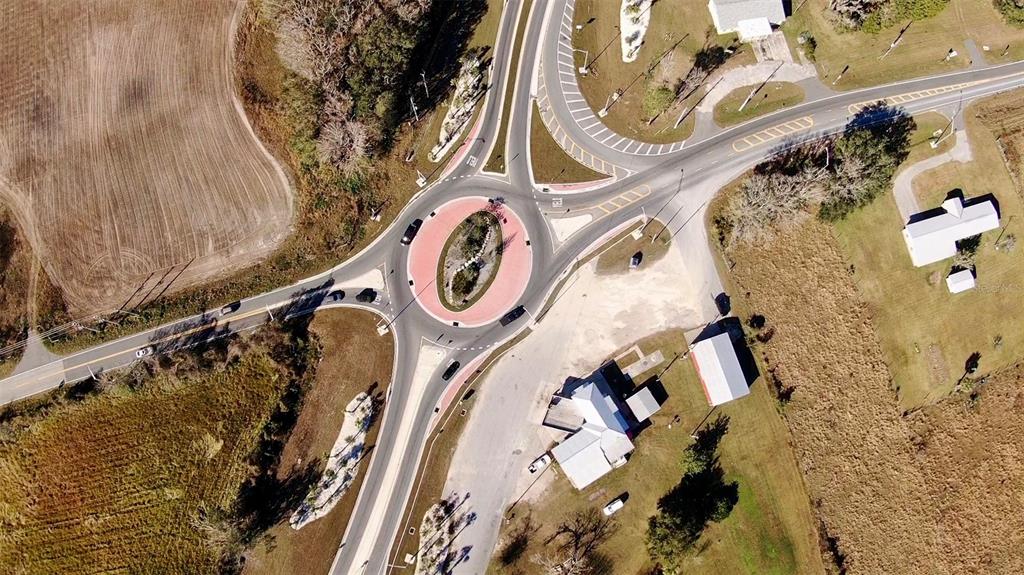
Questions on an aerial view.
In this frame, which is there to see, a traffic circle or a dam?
traffic circle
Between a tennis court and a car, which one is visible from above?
car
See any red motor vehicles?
No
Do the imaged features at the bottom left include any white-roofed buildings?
No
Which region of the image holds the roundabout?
center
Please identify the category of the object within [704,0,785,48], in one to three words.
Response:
house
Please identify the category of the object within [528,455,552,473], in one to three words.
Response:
car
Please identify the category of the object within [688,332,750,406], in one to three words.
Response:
barn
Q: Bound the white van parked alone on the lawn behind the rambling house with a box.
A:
[601,497,624,515]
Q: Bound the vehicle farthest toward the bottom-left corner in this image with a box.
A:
[135,345,155,357]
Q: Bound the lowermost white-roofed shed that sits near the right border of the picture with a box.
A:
[942,269,975,293]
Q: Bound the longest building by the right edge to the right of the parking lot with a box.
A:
[903,197,1000,268]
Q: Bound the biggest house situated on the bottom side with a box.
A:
[551,377,635,490]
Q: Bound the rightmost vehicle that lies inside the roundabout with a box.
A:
[500,305,525,324]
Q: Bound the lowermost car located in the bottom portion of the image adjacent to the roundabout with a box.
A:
[442,360,460,380]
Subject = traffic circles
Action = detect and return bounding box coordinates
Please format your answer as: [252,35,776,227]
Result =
[379,143,562,357]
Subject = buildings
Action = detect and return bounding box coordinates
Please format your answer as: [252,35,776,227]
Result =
[625,387,660,421]
[903,197,1000,268]
[688,332,750,406]
[704,0,785,48]
[942,269,975,293]
[551,377,635,490]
